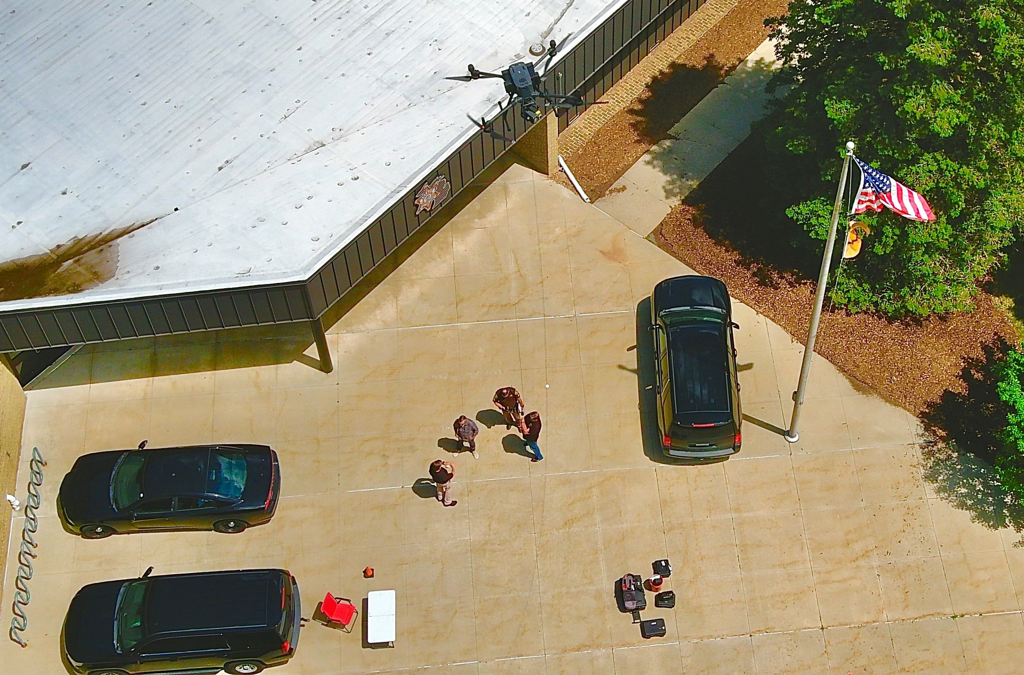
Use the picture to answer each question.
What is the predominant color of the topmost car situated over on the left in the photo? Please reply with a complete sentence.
In this view, the topmost car situated over on the left is black.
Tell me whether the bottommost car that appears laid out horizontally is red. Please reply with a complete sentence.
No, the bottommost car that appears laid out horizontally is actually black.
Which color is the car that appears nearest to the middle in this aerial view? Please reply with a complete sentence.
In this view, the car that appears nearest to the middle is black.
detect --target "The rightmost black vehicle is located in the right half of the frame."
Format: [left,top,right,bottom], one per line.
[644,272,749,461]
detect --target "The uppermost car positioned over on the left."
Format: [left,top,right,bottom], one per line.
[58,435,280,538]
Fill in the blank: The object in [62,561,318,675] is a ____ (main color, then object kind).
black car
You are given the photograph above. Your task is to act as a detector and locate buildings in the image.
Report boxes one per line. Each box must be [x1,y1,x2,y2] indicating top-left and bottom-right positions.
[0,0,717,615]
